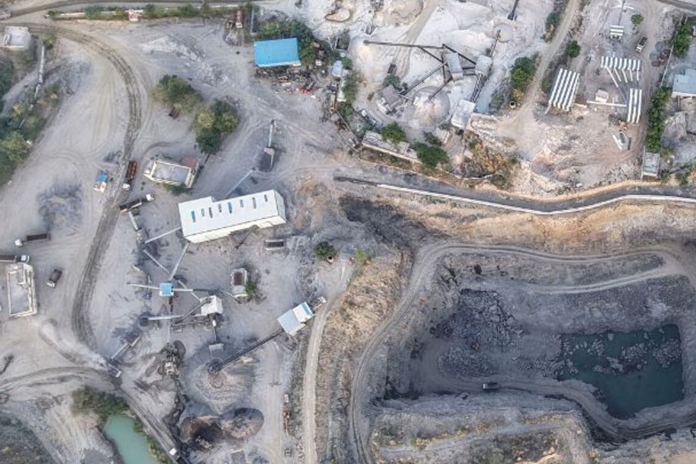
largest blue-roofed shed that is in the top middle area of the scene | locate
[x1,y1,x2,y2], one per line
[255,38,304,73]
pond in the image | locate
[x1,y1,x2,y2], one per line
[103,414,155,464]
